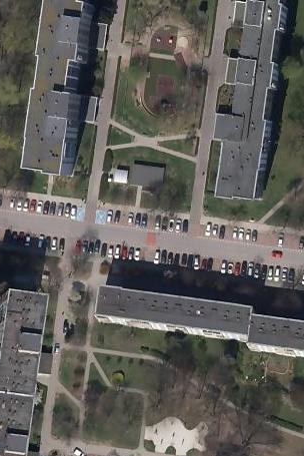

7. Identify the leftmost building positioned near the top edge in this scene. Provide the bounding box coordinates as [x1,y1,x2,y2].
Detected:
[14,0,96,180]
